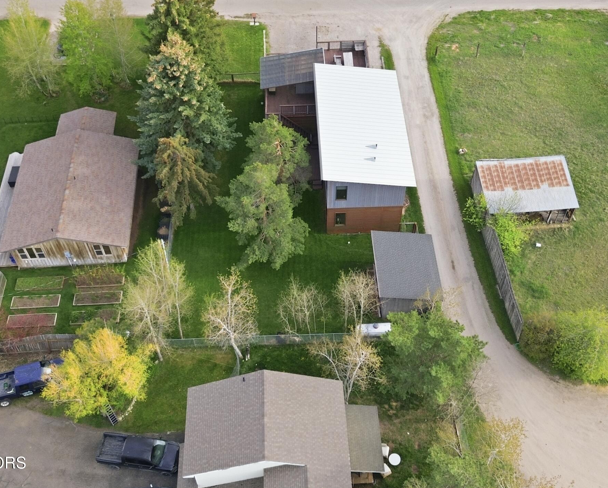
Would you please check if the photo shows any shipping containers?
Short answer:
No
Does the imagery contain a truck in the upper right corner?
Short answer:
No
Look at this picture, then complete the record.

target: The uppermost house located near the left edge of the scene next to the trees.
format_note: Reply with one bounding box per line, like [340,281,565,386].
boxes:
[0,107,140,274]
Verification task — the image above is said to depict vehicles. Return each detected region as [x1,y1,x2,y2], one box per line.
[0,358,66,403]
[96,434,184,477]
